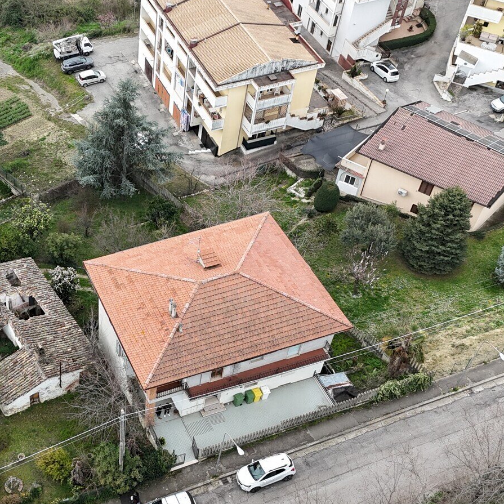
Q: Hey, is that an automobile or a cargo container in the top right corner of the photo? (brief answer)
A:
automobile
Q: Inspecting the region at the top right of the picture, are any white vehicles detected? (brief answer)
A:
Yes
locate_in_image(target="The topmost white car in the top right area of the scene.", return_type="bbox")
[366,56,404,80]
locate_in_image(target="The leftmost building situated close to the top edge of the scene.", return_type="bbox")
[134,0,333,165]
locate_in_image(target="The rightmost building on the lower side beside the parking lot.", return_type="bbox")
[84,211,355,428]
